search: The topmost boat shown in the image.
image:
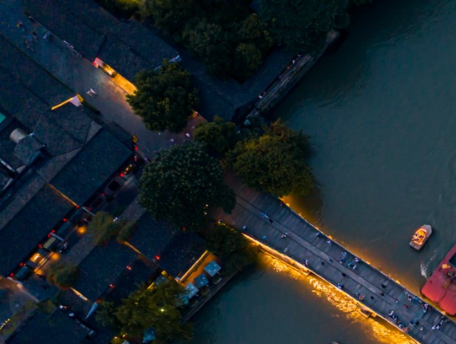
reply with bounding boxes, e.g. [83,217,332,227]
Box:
[409,224,429,252]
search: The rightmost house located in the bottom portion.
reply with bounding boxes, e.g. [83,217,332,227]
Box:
[150,223,210,279]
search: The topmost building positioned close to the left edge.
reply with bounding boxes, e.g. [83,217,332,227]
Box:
[22,0,126,62]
